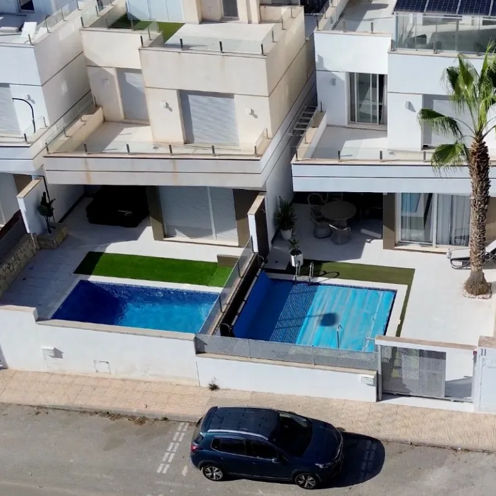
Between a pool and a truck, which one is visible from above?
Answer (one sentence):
It is a pool that can be seen here.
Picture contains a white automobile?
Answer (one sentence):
No, no white automobile is visible in the view.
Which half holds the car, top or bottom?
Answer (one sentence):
The car sits in the bottom half of the picture.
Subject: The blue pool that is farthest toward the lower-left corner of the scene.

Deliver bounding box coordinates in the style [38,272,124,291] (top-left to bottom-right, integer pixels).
[42,272,219,328]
